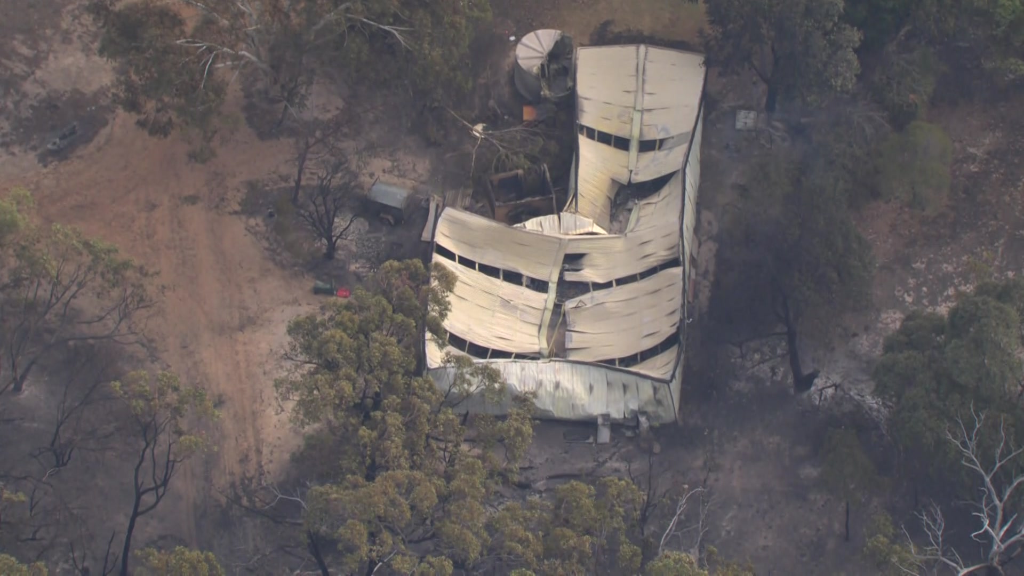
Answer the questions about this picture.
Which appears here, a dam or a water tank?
water tank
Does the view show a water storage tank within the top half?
Yes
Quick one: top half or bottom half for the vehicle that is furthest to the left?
top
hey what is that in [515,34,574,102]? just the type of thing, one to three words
water tank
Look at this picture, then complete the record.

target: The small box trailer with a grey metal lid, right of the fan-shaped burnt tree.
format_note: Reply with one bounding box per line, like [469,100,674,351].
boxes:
[369,177,424,226]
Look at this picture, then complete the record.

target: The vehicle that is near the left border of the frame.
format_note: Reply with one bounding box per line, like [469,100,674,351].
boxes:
[34,111,90,156]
